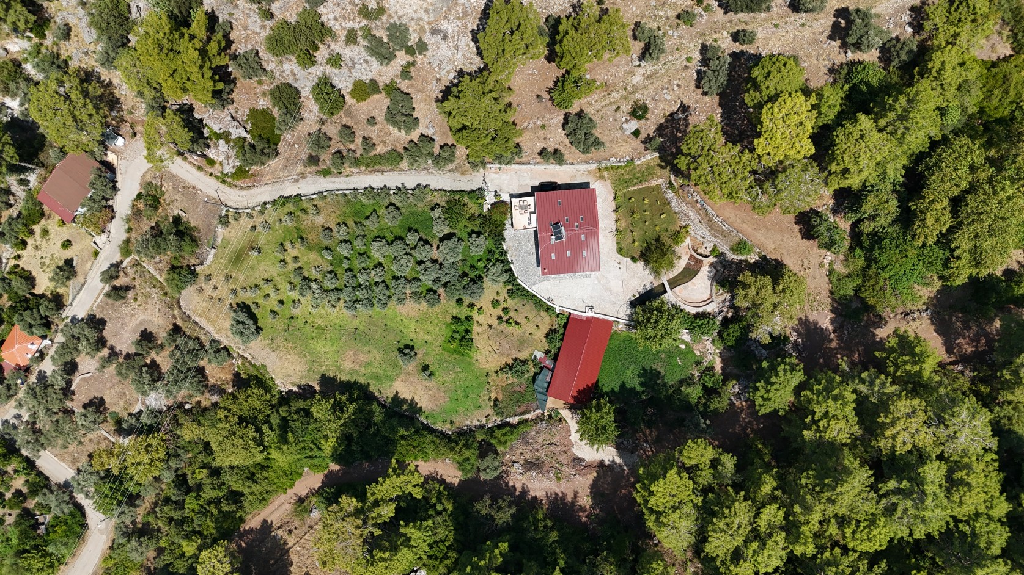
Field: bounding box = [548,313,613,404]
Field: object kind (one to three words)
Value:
barn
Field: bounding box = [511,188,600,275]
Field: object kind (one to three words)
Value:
house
